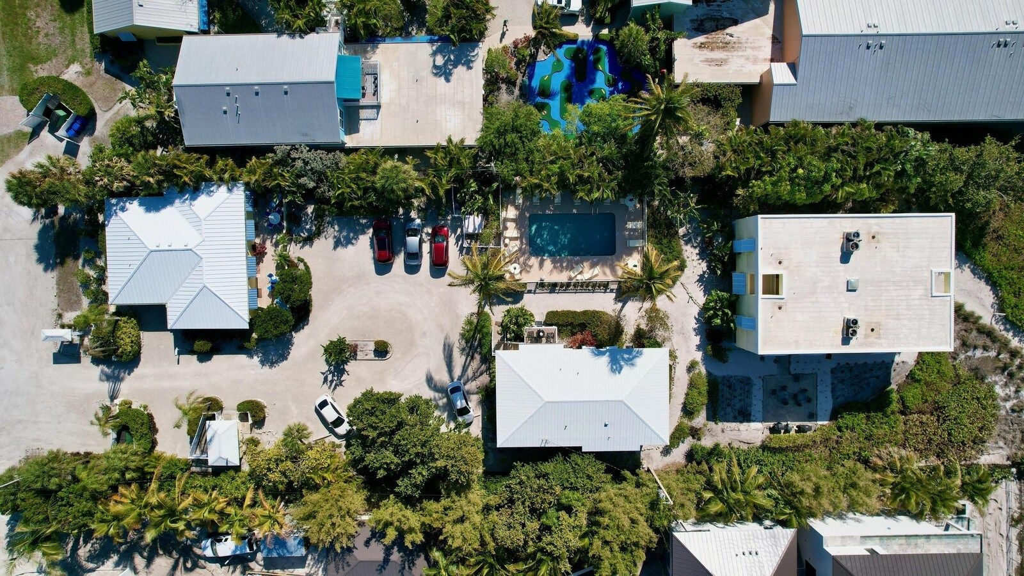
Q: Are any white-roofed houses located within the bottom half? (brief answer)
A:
Yes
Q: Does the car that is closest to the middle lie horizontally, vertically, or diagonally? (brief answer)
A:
vertically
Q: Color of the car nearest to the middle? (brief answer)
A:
red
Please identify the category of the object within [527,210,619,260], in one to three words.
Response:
swimming pool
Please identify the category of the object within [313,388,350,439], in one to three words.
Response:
car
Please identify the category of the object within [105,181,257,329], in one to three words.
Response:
house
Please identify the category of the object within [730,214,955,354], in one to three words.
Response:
building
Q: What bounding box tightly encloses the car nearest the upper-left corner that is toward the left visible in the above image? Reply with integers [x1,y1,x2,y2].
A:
[370,219,396,267]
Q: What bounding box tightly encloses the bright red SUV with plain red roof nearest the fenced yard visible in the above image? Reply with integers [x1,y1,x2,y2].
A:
[429,224,452,270]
